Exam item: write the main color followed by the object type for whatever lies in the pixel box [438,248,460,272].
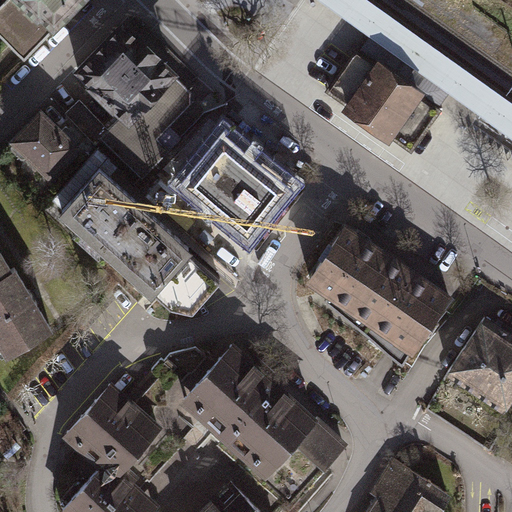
white car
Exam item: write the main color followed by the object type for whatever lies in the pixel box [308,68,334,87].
black car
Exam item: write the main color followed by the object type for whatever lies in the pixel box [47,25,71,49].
white vehicle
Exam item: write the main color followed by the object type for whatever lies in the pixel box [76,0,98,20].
black car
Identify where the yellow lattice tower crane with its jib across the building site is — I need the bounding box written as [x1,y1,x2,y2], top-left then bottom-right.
[89,193,316,238]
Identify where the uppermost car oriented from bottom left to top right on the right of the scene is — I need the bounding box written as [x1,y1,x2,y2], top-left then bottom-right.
[414,131,434,155]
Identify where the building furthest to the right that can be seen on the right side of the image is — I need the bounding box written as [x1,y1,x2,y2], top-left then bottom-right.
[448,322,512,417]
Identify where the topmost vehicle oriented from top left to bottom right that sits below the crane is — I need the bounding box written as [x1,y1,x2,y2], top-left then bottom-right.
[215,244,242,269]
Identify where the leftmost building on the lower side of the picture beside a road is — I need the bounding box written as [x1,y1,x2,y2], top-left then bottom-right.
[0,262,52,360]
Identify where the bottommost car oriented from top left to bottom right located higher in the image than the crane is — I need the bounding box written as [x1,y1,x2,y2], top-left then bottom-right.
[277,134,302,156]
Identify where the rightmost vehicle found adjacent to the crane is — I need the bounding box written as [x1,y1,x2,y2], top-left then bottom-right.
[256,238,280,268]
